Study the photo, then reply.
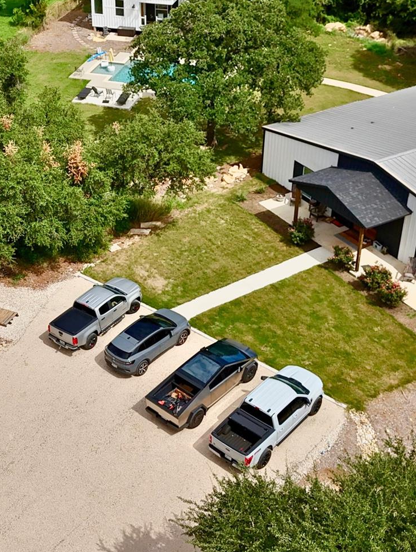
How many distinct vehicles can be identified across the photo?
four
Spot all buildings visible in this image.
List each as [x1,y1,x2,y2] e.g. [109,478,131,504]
[261,86,416,273]
[91,0,177,33]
